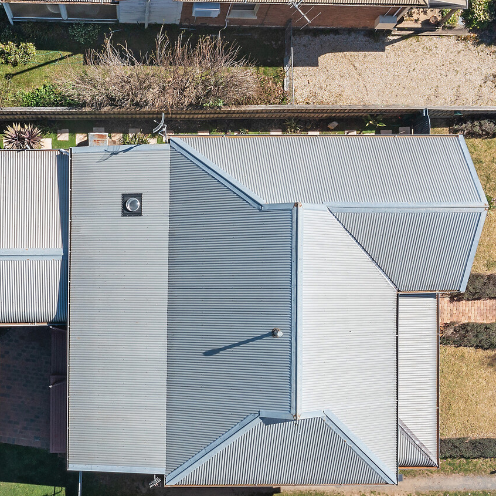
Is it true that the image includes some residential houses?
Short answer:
Yes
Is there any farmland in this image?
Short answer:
No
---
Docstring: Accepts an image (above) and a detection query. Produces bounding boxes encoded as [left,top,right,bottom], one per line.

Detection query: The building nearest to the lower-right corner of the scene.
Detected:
[64,131,491,491]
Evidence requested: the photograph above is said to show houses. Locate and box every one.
[64,131,491,491]
[0,0,473,42]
